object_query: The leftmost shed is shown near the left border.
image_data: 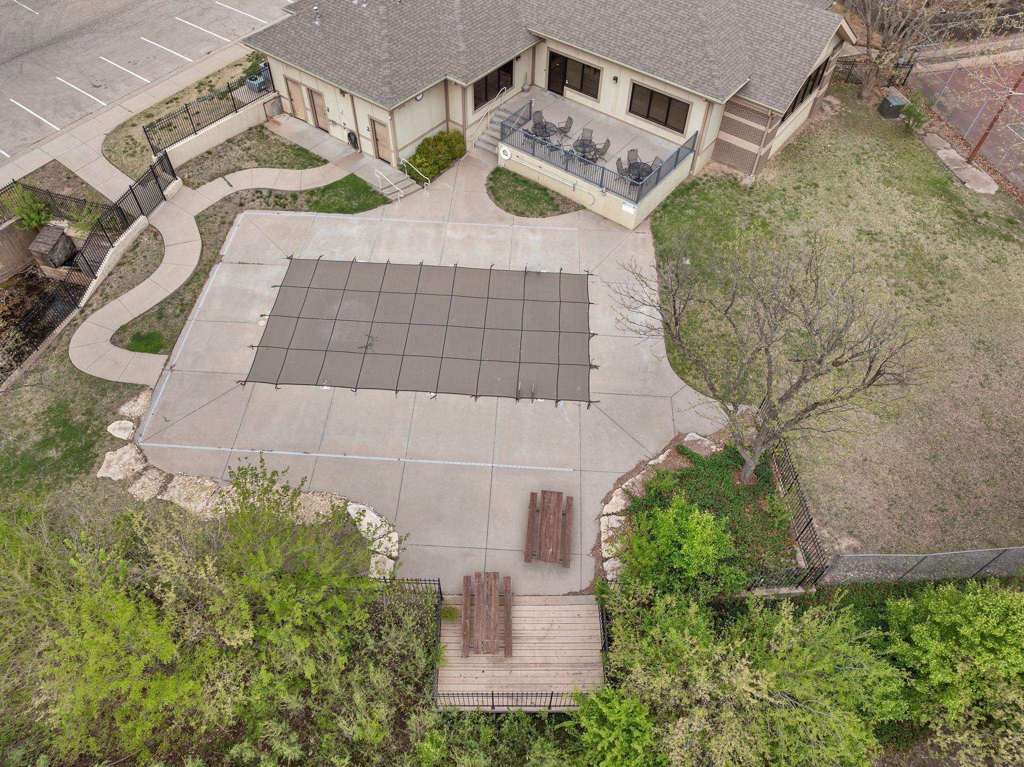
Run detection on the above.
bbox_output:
[18,228,70,269]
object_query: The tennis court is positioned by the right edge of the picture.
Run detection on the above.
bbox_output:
[914,46,1024,207]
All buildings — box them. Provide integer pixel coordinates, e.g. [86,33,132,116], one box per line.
[18,228,70,269]
[247,0,875,179]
